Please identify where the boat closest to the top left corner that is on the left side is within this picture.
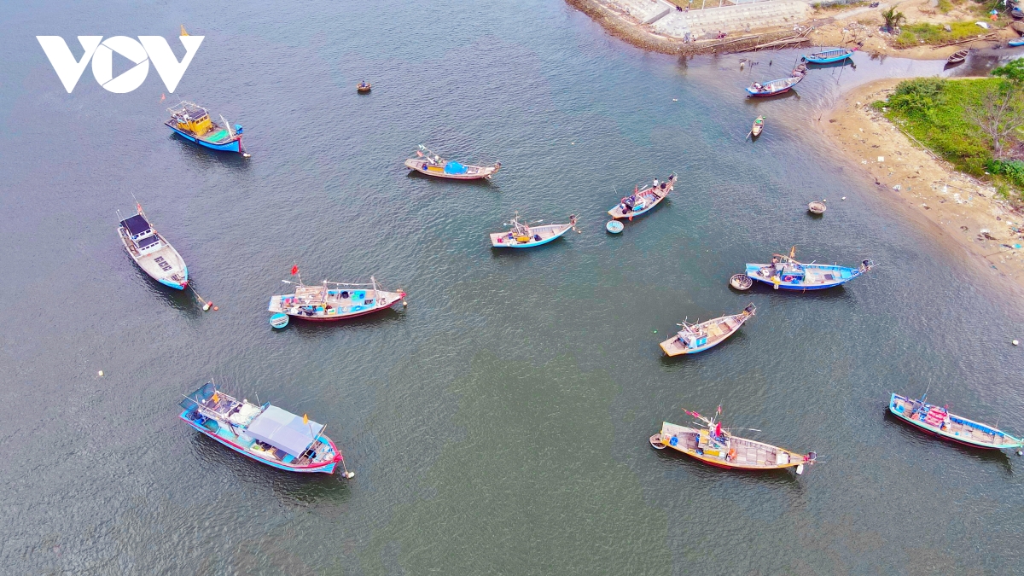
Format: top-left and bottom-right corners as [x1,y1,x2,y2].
[160,95,247,153]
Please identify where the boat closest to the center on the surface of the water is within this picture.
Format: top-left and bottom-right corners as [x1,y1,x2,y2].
[490,209,584,252]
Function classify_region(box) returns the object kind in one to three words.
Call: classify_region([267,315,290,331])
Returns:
boat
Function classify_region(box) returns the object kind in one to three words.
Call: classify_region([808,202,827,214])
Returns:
boat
